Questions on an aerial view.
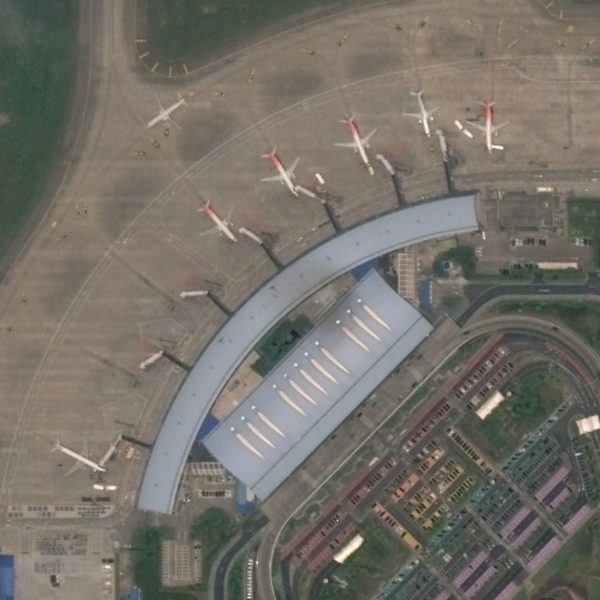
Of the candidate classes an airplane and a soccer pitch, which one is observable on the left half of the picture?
airplane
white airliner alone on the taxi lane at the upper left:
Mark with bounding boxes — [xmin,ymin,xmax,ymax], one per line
[148,91,189,128]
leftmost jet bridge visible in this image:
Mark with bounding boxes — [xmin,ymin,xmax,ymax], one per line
[99,435,154,468]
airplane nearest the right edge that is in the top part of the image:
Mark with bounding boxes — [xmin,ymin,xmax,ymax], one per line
[468,103,510,153]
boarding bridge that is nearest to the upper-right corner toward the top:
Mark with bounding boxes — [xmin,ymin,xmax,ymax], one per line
[436,129,455,195]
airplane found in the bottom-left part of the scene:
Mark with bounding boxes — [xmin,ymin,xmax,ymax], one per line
[51,433,106,480]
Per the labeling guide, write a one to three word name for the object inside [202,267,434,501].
building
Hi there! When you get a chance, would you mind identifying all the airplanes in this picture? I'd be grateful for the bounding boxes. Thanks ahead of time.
[338,116,378,165]
[148,91,189,128]
[468,103,510,153]
[404,92,442,138]
[262,148,302,197]
[198,199,238,243]
[51,433,106,480]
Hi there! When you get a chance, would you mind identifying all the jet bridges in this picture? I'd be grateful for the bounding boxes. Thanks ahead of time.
[436,129,455,195]
[99,435,154,468]
[140,350,189,371]
[179,289,231,318]
[240,227,284,272]
[376,154,405,210]
[296,185,343,236]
